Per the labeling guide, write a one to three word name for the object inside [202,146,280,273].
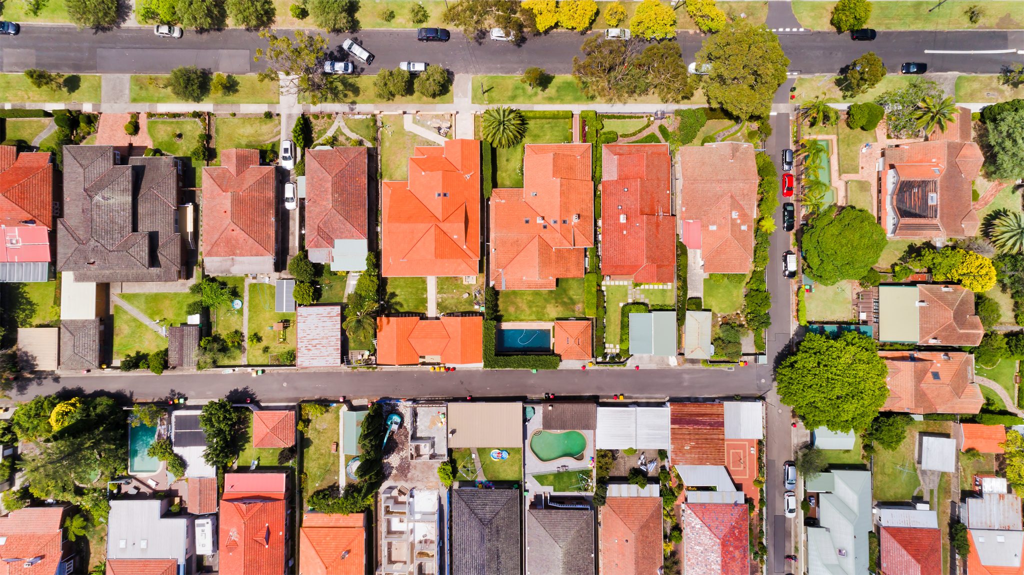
house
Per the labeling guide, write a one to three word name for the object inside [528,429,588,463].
swimming pool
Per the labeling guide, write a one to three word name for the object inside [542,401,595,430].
building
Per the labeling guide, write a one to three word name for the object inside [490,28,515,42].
car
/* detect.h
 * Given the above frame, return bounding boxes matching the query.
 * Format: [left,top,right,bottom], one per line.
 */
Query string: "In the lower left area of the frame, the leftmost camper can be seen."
[195,515,219,563]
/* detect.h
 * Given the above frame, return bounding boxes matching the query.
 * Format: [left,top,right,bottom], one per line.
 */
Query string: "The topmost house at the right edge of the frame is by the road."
[867,104,984,238]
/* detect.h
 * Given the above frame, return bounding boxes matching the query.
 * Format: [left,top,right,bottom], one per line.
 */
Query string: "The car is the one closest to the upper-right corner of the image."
[899,61,926,75]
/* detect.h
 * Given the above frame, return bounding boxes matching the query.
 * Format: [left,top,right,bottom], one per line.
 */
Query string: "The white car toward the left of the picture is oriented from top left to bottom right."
[343,41,374,65]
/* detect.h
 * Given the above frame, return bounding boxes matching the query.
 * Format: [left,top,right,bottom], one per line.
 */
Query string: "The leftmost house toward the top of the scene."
[0,145,61,282]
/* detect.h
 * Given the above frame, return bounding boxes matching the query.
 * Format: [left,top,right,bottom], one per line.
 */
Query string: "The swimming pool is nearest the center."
[495,326,554,355]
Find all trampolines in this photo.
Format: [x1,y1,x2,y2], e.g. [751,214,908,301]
[345,459,363,479]
[231,299,243,310]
